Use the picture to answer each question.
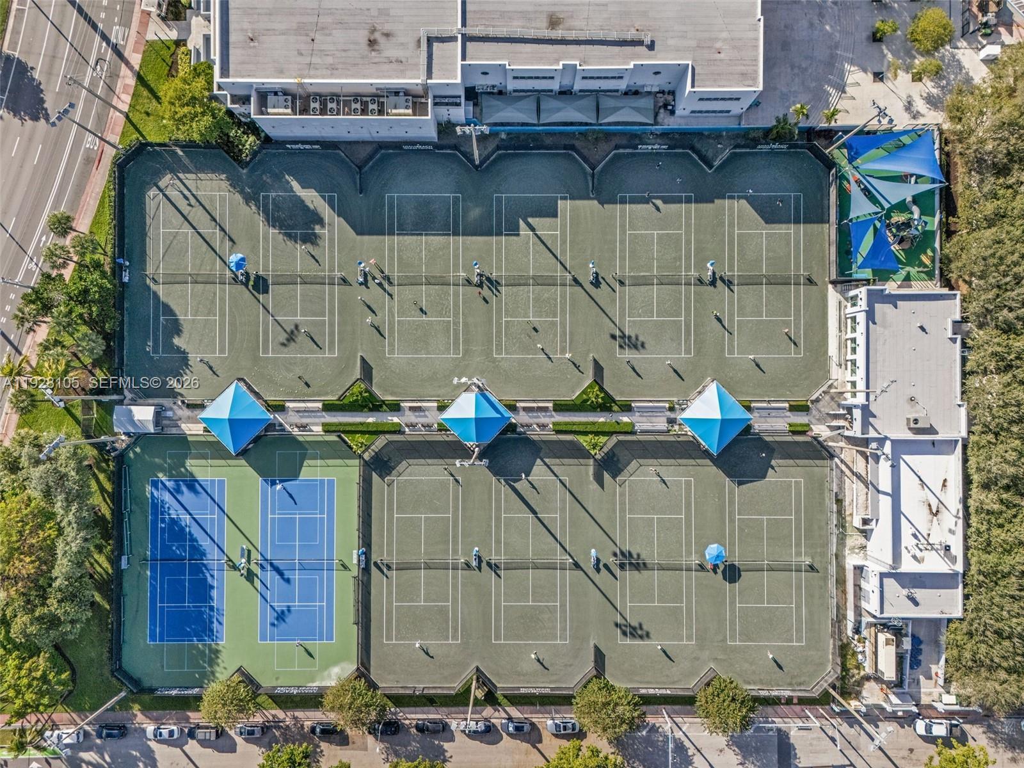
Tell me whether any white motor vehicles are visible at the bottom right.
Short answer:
Yes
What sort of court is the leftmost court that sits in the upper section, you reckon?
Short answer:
tennis court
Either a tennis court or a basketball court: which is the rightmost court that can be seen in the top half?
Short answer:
tennis court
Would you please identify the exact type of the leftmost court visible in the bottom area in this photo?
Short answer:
tennis court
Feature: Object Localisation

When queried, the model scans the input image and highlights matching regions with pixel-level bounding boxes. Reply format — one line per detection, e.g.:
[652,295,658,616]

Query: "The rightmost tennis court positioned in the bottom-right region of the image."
[712,435,831,689]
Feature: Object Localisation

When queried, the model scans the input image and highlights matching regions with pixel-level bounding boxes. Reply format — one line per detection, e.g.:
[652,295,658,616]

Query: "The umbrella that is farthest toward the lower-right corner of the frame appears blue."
[705,544,725,564]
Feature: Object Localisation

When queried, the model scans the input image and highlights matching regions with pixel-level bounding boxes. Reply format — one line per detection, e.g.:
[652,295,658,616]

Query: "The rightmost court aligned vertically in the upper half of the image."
[710,150,831,400]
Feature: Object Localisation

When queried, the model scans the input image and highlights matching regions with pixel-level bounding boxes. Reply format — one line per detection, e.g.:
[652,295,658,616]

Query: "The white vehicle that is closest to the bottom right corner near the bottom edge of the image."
[914,717,956,736]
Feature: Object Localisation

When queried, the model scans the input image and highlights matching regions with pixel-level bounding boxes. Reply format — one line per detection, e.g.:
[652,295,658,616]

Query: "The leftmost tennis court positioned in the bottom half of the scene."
[122,436,241,687]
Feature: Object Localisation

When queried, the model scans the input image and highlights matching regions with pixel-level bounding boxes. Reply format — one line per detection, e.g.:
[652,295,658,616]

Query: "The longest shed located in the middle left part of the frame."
[115,407,171,433]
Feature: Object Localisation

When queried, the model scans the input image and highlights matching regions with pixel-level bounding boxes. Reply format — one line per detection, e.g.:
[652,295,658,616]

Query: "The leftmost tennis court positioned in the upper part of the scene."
[124,148,243,400]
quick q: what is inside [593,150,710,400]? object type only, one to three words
tennis court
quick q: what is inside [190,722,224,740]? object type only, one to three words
car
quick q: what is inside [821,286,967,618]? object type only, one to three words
building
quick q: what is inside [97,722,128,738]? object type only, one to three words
car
